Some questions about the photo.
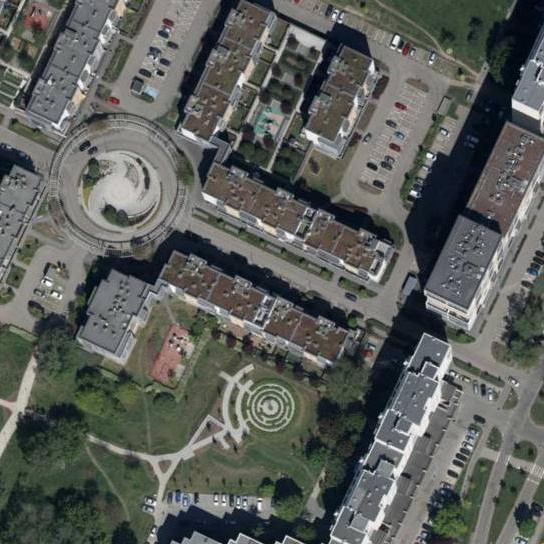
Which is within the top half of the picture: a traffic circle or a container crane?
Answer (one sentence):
It is a traffic circle that can be seen within the top half of the picture.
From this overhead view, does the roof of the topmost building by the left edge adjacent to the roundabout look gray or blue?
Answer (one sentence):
The roof of the topmost building by the left edge adjacent to the roundabout is gray.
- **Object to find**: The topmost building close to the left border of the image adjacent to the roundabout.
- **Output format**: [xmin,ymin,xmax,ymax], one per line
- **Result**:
[26,0,125,135]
